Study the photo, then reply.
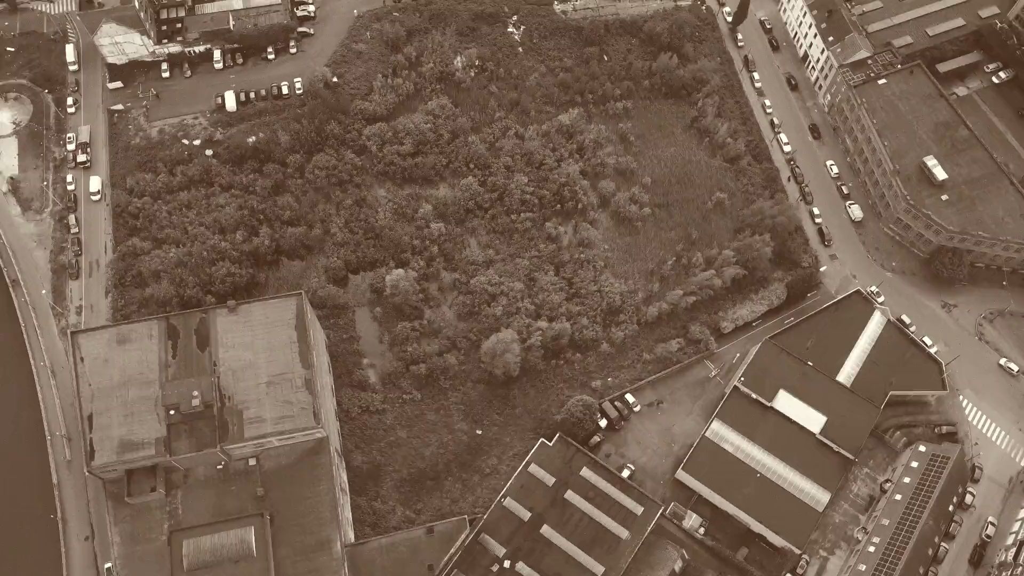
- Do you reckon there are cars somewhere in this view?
Yes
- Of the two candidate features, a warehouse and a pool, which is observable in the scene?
warehouse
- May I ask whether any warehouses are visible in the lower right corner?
Yes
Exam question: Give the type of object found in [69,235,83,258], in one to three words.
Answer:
car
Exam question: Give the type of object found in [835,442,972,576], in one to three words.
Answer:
house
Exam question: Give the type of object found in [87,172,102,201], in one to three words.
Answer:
vehicle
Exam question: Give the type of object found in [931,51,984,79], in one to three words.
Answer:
shed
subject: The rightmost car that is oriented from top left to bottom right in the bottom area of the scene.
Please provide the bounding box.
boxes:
[997,357,1021,377]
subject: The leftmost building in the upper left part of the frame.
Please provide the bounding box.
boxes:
[133,0,189,44]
